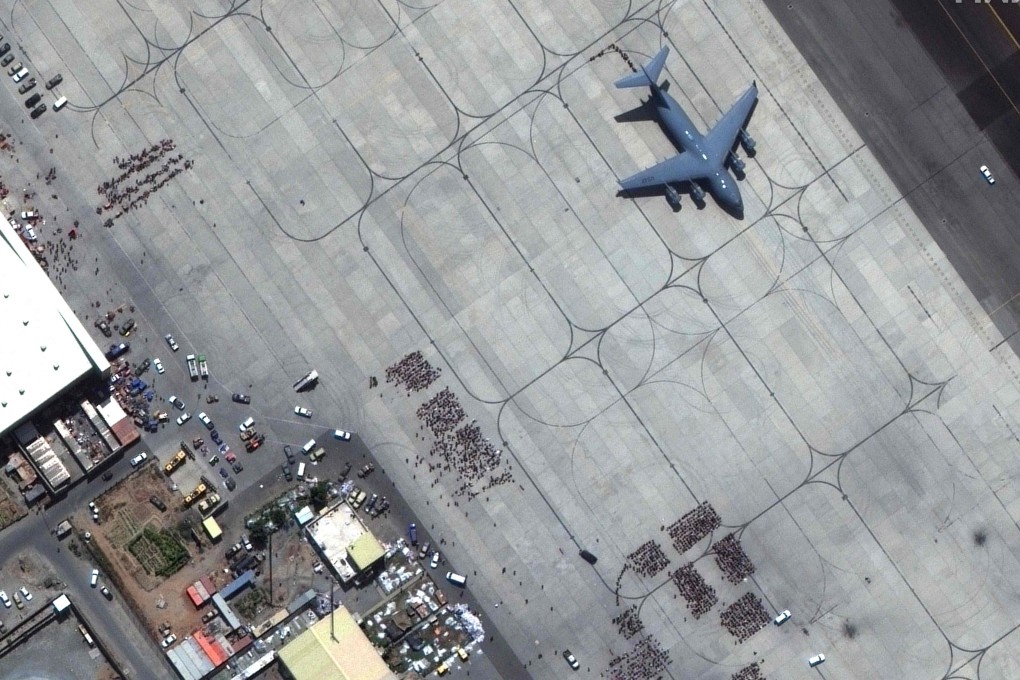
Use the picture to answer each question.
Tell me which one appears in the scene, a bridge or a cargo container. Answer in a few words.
cargo container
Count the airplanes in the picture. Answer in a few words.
1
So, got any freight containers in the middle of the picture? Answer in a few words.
No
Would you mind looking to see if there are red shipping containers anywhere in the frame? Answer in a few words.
Yes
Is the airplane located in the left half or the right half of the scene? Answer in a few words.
right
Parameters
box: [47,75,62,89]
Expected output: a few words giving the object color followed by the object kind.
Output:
gray vehicle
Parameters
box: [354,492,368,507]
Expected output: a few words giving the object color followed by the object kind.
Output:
white vehicle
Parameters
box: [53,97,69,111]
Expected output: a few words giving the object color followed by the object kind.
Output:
white vehicle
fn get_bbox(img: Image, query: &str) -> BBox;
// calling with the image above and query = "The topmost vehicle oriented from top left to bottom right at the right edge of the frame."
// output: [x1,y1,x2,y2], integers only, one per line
[981,166,994,183]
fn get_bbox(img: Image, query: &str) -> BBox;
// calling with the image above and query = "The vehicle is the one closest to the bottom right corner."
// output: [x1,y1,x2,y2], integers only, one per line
[809,653,826,666]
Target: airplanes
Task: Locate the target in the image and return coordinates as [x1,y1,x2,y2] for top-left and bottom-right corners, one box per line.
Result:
[614,45,758,210]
